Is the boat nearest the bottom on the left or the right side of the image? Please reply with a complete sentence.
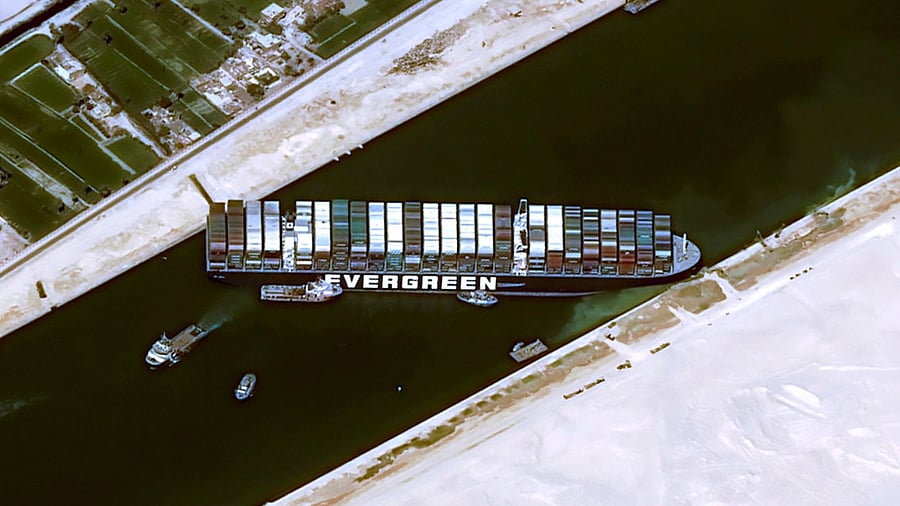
The boat nearest the bottom appears in the left half of the scene.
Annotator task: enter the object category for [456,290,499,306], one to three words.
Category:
boat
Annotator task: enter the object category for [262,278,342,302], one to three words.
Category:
ship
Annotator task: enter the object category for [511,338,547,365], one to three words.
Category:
ship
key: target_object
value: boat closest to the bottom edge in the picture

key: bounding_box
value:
[236,372,258,400]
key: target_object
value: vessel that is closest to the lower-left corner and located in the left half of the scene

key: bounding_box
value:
[147,323,206,365]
